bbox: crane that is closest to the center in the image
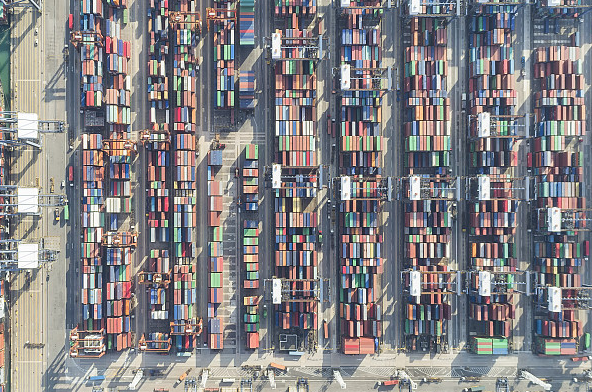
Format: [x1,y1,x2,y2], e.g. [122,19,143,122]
[265,163,331,193]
